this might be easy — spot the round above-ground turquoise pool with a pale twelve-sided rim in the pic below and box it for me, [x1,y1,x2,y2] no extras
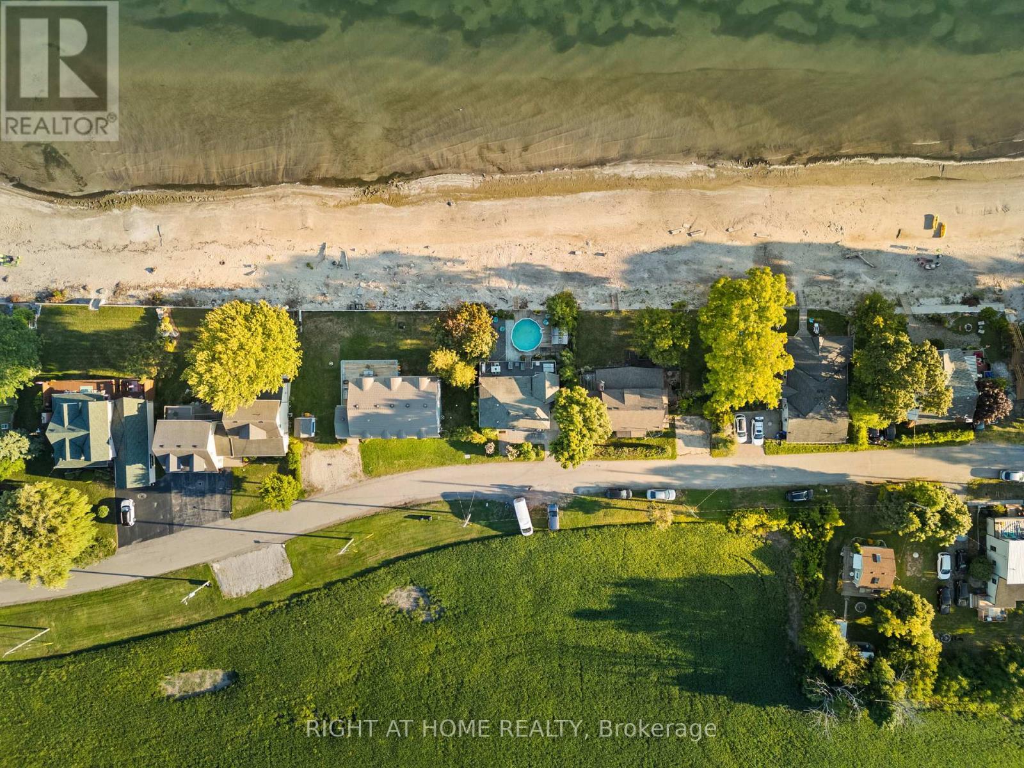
[511,318,545,352]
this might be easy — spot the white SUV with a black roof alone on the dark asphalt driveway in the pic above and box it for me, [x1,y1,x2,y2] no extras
[120,499,136,527]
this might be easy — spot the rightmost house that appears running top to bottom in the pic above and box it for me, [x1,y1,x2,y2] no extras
[982,514,1024,608]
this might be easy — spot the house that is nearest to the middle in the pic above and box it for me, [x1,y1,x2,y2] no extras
[478,369,560,429]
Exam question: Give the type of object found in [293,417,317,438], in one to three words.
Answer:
shed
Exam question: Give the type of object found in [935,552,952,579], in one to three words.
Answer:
car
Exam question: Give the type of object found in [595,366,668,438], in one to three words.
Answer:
house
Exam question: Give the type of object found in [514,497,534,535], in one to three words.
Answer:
vehicle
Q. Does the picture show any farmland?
Yes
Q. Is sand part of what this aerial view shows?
Yes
